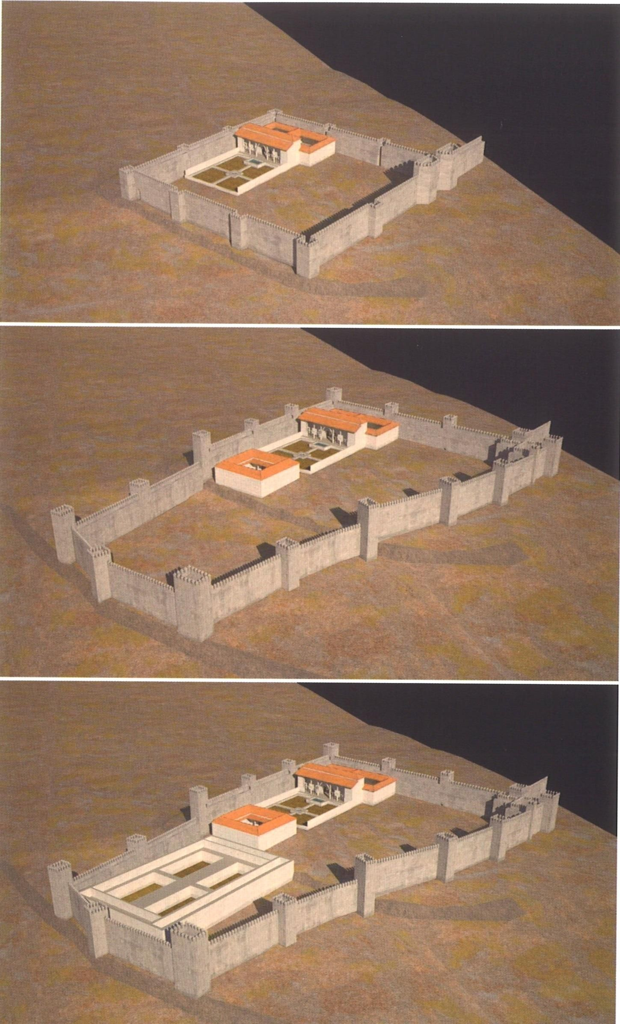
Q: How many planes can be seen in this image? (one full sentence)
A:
The photo contains no planes.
